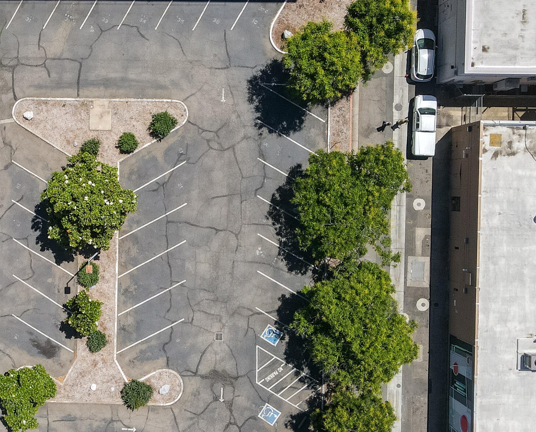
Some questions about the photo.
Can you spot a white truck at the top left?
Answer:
No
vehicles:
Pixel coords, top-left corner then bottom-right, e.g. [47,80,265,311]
[412,29,440,83]
[412,94,442,159]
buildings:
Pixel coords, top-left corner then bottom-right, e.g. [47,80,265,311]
[446,121,536,432]
[435,0,536,89]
